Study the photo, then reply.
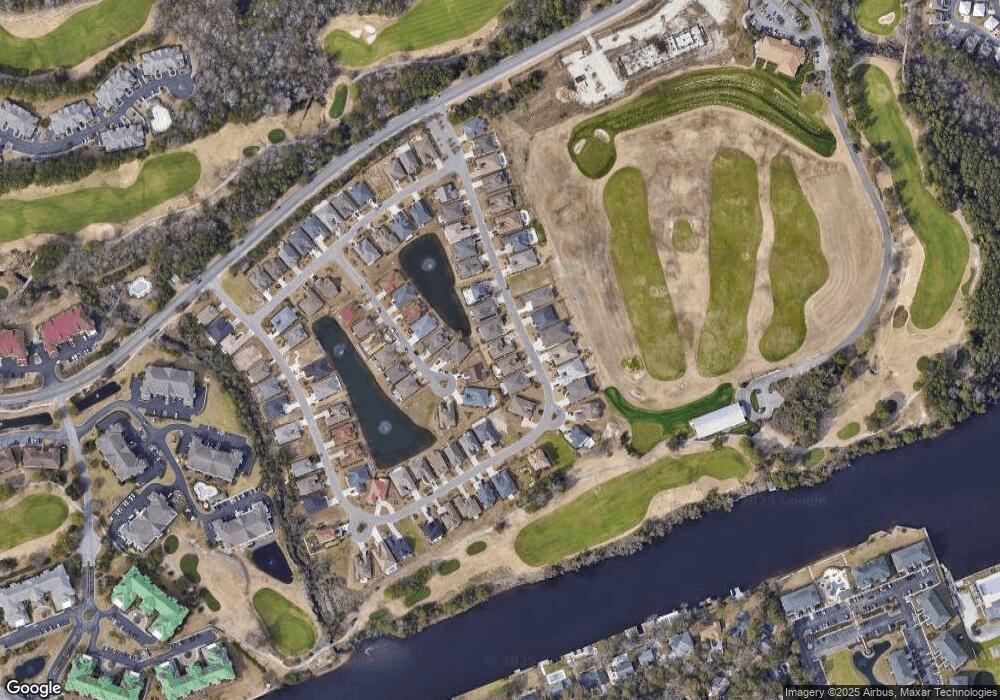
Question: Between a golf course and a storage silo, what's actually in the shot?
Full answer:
Of the two, only a golf course appears.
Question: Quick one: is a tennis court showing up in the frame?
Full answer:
No, I can see no tennis court in this picture.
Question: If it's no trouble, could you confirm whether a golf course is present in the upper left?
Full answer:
Yes, in the upper left there is a golf course.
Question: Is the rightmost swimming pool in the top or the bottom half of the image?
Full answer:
It is in the bottom half that the rightmost swimming pool appears.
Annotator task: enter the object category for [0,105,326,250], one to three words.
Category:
golf course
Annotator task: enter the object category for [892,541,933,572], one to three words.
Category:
building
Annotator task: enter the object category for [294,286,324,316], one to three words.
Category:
house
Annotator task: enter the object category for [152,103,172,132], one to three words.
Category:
swimming pool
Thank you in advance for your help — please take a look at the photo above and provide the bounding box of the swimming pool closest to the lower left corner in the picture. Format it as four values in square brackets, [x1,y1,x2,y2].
[194,481,218,500]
